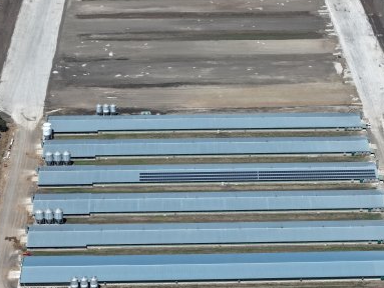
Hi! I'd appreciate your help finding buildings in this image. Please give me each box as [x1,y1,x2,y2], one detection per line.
[16,221,384,252]
[39,112,372,137]
[28,162,384,190]
[23,190,384,220]
[10,252,384,288]
[33,136,380,162]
